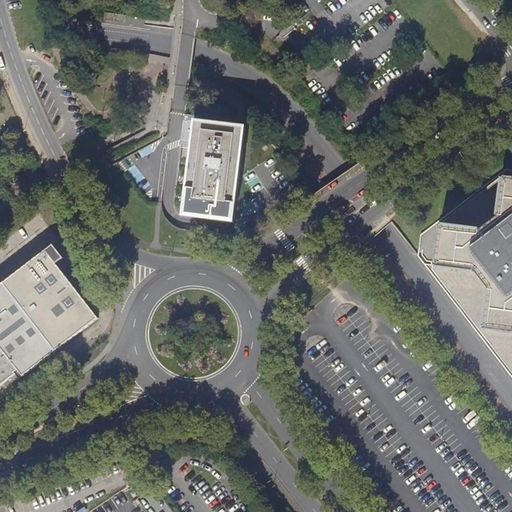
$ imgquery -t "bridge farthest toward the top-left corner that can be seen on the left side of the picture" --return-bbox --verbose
[166,0,199,113]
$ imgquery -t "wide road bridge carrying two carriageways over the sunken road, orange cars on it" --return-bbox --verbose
[307,161,404,248]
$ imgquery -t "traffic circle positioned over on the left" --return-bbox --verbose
[120,260,265,405]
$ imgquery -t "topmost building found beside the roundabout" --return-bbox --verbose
[180,118,244,222]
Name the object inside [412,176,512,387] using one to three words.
building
